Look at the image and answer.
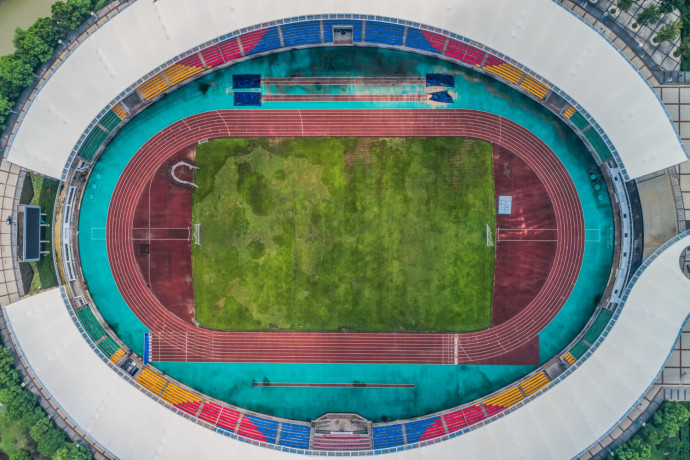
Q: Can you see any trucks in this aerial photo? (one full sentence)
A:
No, there's no truck here.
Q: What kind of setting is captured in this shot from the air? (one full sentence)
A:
What you see here is a sports ground.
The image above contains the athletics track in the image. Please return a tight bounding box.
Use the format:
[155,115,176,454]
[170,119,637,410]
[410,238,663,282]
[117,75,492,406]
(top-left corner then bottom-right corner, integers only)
[106,109,584,363]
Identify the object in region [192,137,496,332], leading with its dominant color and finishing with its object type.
green soccer field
